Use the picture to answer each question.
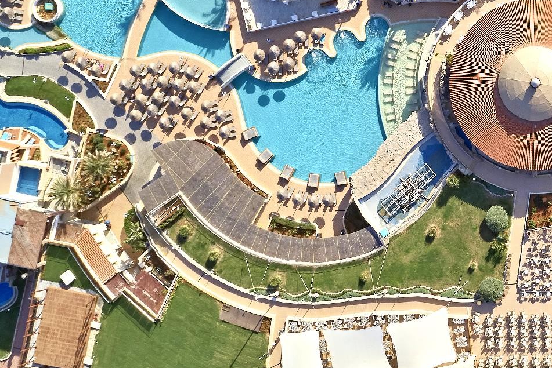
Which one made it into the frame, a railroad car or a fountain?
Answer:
fountain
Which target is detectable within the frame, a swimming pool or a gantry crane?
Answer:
swimming pool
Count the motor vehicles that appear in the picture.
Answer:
zero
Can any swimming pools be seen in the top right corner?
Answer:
Yes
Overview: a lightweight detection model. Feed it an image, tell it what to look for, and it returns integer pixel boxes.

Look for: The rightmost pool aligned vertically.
[378,18,440,138]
